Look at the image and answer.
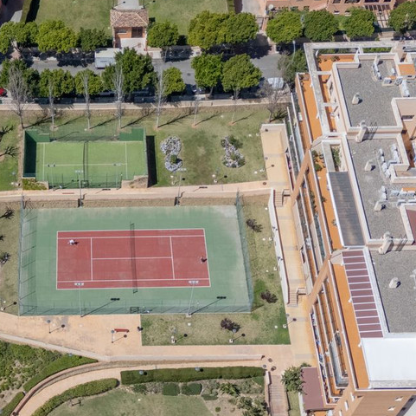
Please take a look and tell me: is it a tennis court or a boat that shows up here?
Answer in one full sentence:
Visible in the photo is a tennis court.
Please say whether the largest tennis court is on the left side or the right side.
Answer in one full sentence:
The largest tennis court sits on the left side.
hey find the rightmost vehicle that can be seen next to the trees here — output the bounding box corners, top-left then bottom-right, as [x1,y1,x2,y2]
[258,72,293,90]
